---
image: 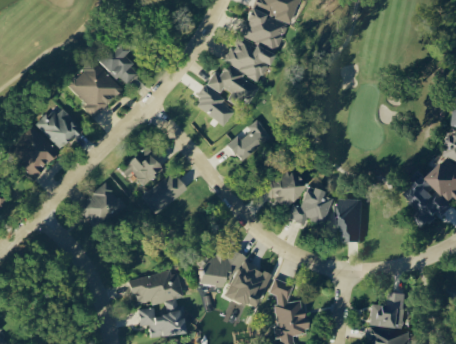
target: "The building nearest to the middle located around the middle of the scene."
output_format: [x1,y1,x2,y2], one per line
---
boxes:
[228,124,265,160]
